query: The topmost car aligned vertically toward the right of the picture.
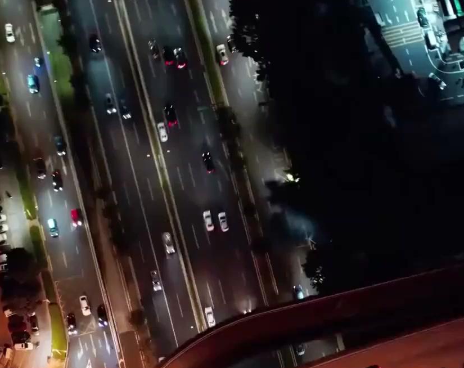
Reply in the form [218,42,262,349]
[415,5,428,30]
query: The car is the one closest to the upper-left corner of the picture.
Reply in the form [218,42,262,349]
[4,22,17,46]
